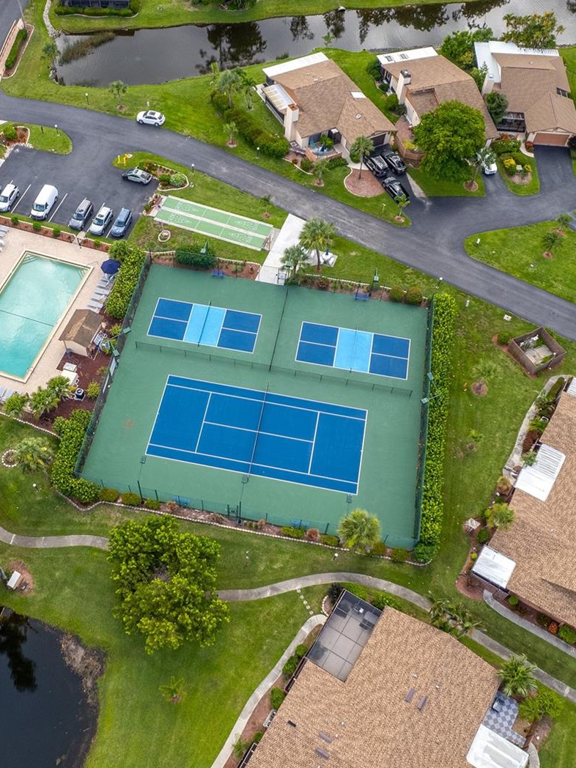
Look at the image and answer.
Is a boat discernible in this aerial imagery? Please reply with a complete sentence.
No, I find no boat anywhere in the image.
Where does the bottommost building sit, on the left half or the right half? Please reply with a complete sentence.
You can find the bottommost building on the right side of the picture.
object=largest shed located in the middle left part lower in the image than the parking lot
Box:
[58,309,103,355]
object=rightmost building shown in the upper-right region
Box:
[474,40,576,147]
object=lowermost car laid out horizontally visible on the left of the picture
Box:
[119,167,153,186]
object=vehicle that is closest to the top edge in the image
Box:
[134,110,167,128]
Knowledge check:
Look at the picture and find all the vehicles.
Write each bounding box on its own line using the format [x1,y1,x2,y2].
[0,180,18,211]
[109,205,133,236]
[89,203,113,235]
[119,167,153,186]
[384,175,410,199]
[134,110,167,128]
[362,152,390,178]
[479,156,499,179]
[69,196,94,229]
[381,151,409,177]
[31,180,58,220]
